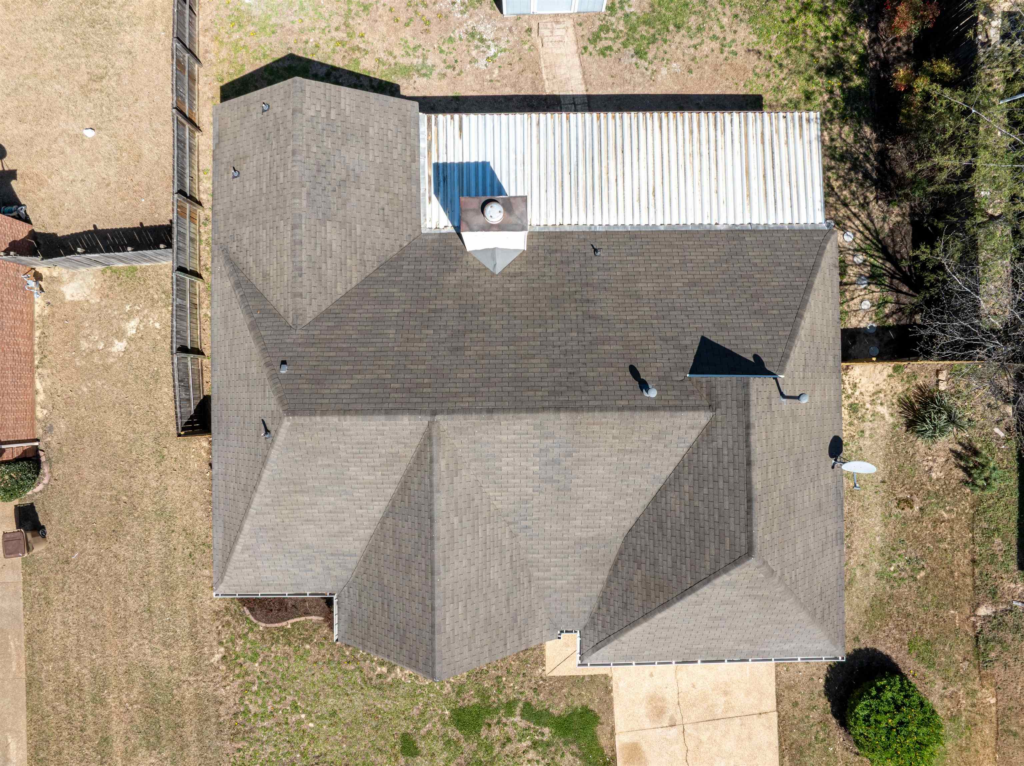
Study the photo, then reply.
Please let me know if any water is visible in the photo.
No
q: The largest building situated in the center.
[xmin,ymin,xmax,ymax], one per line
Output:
[210,77,847,682]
